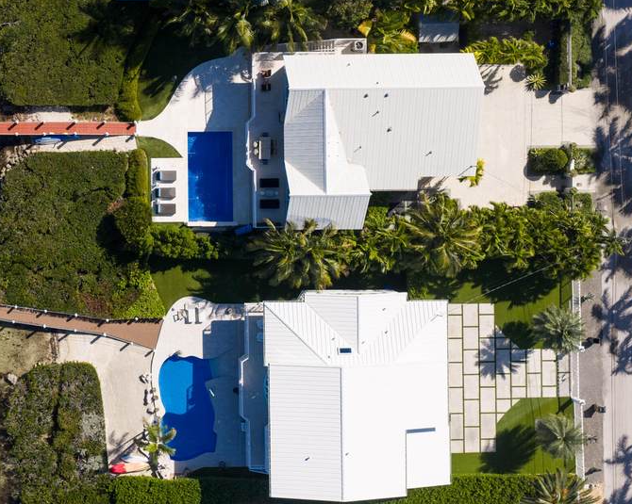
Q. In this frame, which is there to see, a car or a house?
house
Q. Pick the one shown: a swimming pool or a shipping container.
swimming pool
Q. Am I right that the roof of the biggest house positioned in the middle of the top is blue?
No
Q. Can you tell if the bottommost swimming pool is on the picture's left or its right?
left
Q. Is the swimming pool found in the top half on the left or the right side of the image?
left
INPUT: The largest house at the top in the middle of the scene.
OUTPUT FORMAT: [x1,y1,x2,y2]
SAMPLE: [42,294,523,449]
[246,39,485,231]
